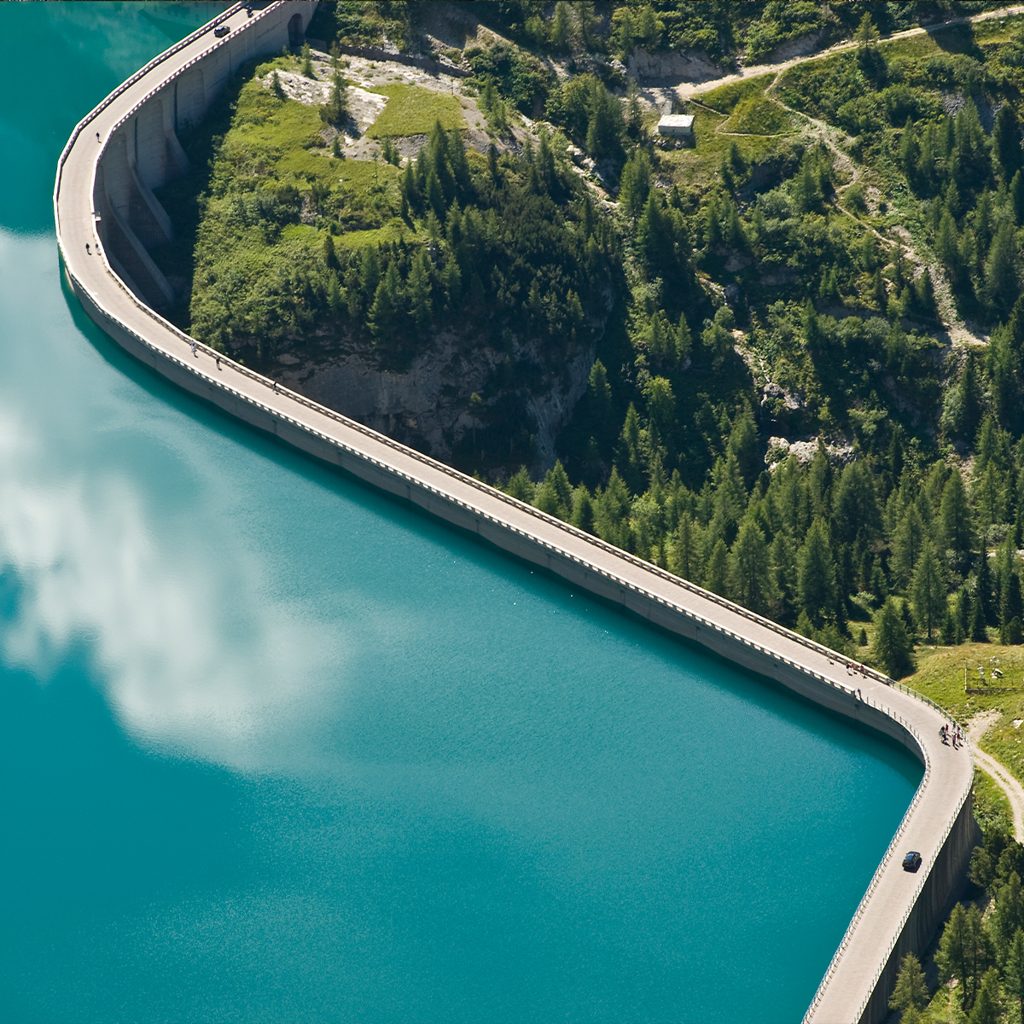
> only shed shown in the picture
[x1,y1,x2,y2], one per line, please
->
[656,112,692,136]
